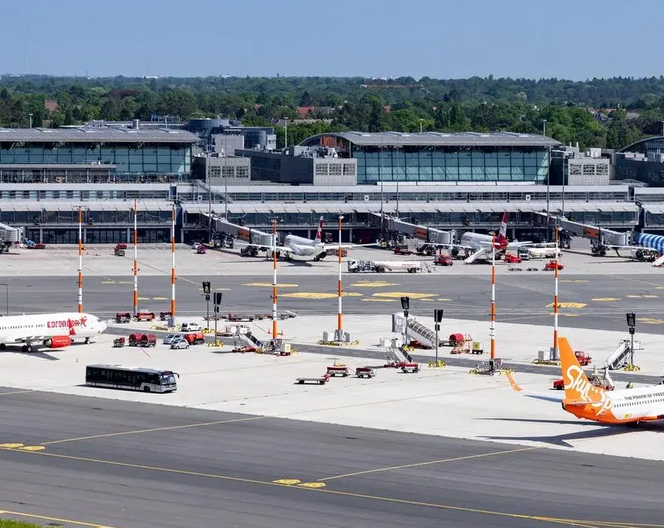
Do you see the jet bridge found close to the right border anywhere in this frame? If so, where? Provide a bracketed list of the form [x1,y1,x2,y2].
[528,209,643,252]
